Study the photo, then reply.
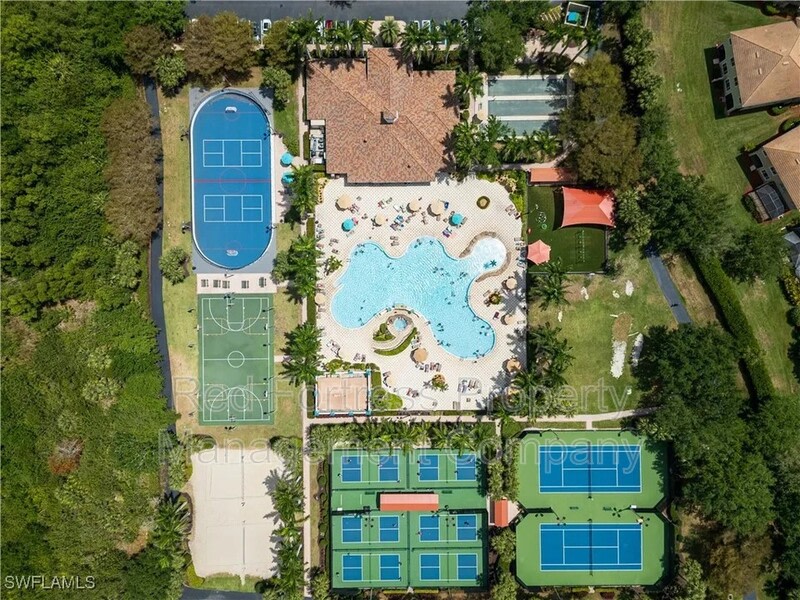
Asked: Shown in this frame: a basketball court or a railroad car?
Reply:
basketball court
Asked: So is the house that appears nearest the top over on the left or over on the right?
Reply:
right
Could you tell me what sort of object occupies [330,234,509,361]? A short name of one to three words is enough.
swimming pool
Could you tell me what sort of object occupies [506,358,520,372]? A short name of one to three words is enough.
umbrella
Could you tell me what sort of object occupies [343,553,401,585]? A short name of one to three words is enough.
sports court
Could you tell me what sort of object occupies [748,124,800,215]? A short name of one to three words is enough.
house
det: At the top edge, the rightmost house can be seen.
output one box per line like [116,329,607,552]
[716,16,800,114]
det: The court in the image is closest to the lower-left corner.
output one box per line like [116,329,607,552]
[187,447,290,583]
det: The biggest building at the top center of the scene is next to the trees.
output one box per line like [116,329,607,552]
[306,46,457,184]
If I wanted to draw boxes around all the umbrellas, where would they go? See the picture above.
[342,219,355,230]
[505,278,516,289]
[409,198,422,212]
[338,194,353,209]
[506,358,520,372]
[430,200,445,215]
[282,154,294,166]
[413,348,427,362]
[374,213,386,226]
[528,241,551,266]
[505,315,516,325]
[450,212,463,226]
[387,375,398,386]
[316,294,326,304]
